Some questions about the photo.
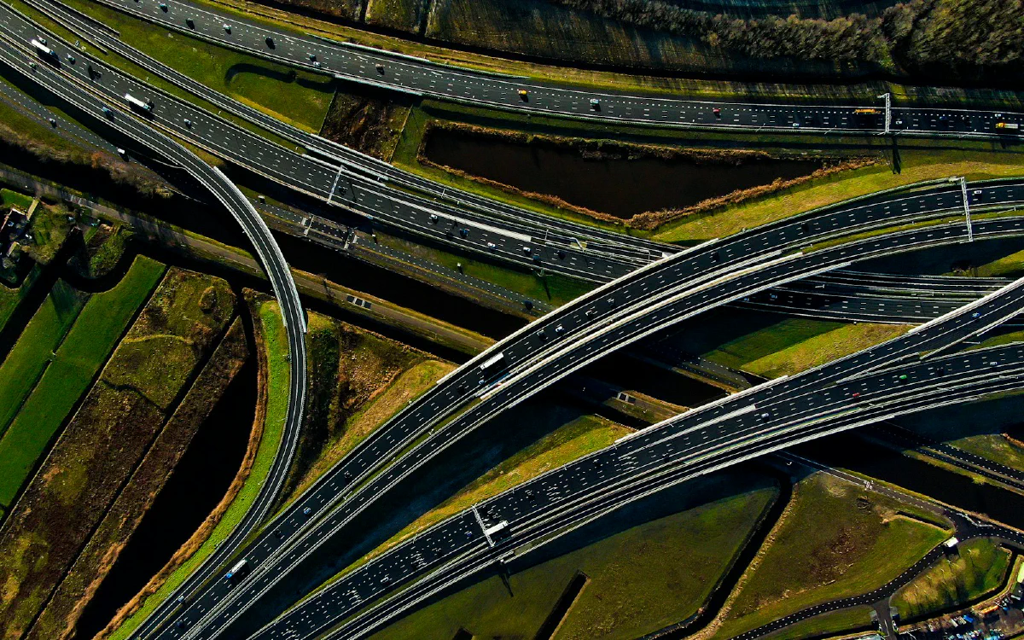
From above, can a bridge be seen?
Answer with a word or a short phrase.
Yes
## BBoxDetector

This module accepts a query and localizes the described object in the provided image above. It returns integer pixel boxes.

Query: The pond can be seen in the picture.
[422,125,827,217]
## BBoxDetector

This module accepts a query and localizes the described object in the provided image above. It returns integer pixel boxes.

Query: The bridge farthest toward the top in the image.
[321,38,433,94]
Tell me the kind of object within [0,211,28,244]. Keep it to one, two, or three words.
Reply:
house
